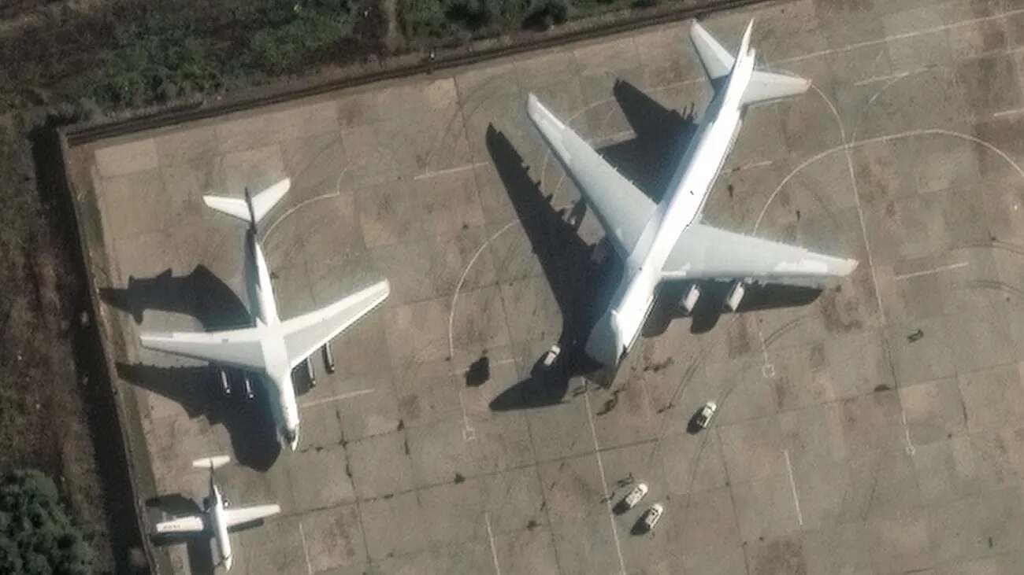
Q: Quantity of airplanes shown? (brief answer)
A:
3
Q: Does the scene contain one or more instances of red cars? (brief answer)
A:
No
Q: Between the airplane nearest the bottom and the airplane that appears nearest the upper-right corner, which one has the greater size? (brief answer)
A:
the airplane that appears nearest the upper-right corner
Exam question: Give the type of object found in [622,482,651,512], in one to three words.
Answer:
car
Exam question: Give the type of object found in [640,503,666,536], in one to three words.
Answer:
car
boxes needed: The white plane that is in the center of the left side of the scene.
[141,179,388,451]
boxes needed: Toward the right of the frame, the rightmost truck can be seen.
[694,401,718,433]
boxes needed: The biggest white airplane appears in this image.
[529,20,857,393]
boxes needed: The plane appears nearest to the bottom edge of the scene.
[157,456,280,573]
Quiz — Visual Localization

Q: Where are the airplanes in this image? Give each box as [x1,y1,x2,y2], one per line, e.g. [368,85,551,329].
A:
[141,179,388,451]
[529,20,857,393]
[157,456,280,573]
